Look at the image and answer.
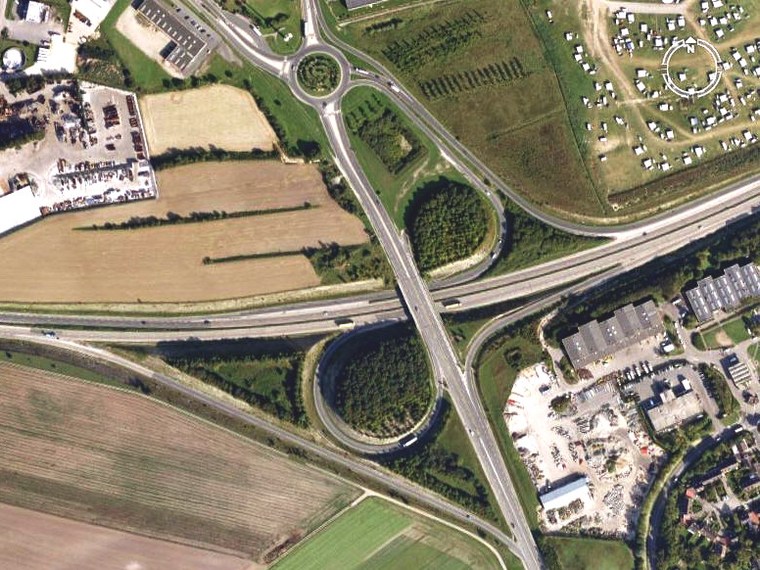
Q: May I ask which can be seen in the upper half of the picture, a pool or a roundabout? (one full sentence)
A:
There is a roundabout in the upper half of the picture.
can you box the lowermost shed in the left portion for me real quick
[0,184,41,230]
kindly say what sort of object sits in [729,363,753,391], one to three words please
building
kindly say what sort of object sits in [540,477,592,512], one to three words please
barn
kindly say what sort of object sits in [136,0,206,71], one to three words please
building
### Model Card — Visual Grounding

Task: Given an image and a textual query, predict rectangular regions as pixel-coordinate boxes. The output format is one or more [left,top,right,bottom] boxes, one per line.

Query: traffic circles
[287,42,352,107]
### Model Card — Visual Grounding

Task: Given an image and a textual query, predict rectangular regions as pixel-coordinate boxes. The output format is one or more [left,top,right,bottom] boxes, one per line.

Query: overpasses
[391,258,446,344]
